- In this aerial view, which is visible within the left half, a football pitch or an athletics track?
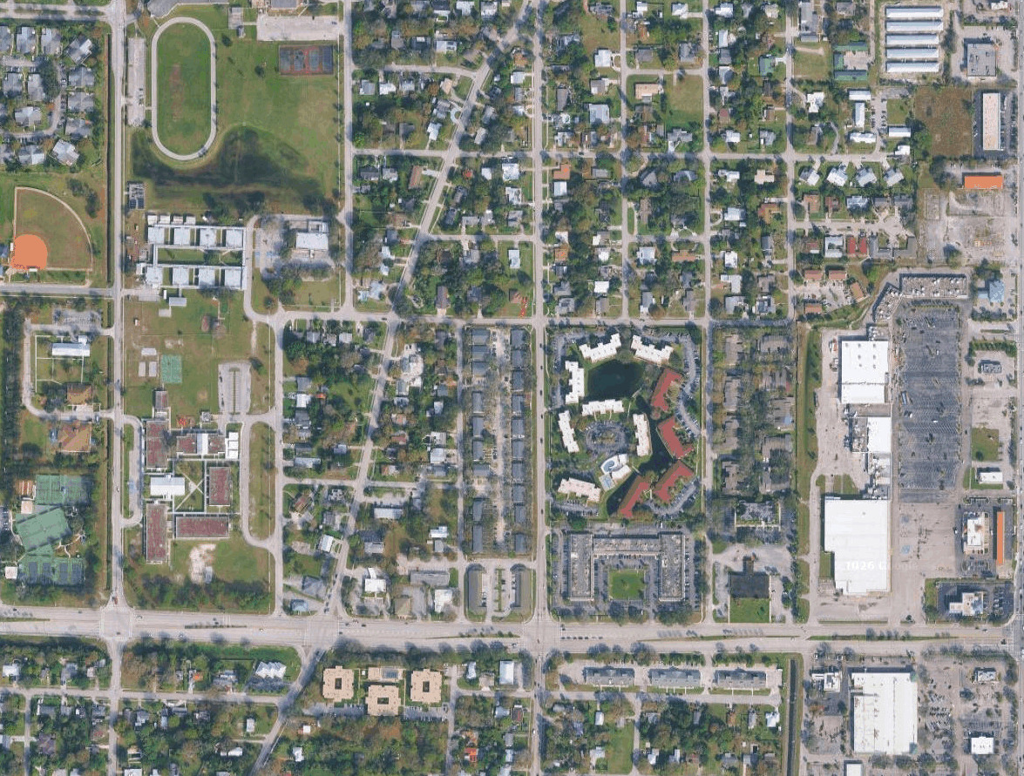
athletics track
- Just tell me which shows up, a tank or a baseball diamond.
baseball diamond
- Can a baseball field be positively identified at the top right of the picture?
No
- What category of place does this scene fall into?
residential area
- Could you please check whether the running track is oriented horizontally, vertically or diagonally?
vertically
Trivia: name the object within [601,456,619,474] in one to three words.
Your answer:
swimming pool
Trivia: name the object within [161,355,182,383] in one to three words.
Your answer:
basketball court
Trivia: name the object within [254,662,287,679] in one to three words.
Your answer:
building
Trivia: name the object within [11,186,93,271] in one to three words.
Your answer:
baseball field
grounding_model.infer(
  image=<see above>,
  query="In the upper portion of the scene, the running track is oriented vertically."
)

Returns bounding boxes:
[152,17,216,160]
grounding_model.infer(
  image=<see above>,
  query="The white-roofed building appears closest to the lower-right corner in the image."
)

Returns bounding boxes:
[970,737,994,754]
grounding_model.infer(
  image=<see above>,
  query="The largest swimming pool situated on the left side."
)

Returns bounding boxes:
[381,668,405,681]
